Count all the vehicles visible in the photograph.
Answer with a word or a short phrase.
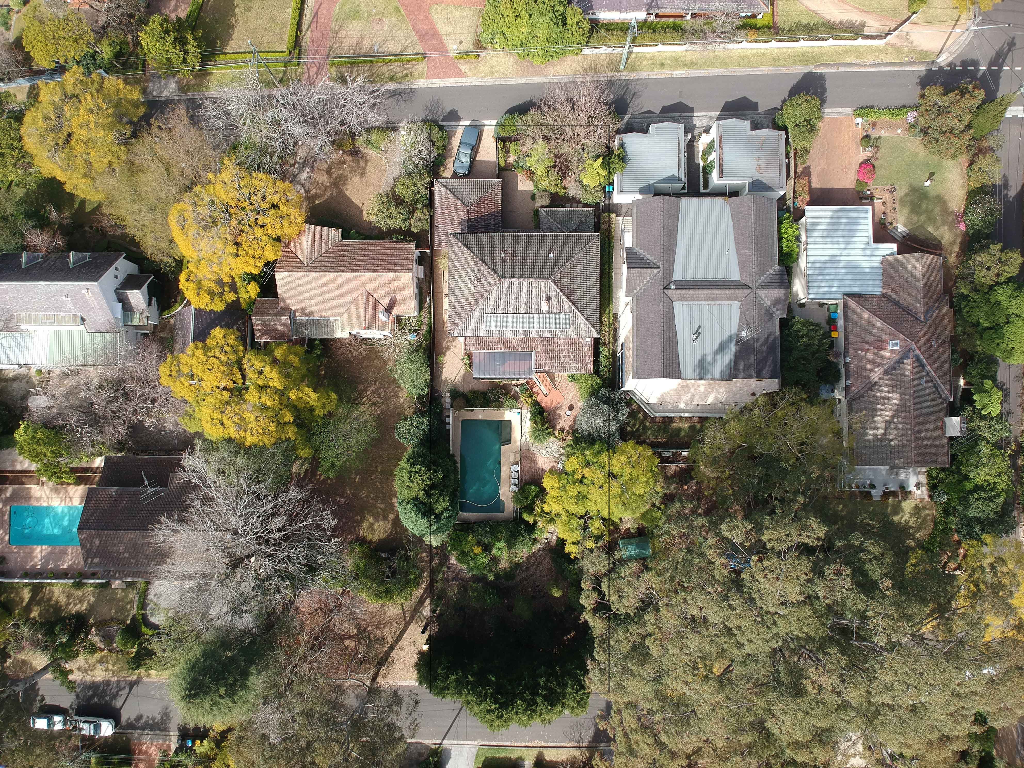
three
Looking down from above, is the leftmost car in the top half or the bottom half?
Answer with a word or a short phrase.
bottom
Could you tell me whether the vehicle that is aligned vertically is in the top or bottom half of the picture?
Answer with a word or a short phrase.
top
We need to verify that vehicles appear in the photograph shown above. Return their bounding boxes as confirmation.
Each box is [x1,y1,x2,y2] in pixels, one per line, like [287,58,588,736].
[25,714,63,735]
[455,123,481,175]
[64,716,115,742]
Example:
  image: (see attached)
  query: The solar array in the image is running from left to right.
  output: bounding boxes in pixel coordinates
[485,313,571,330]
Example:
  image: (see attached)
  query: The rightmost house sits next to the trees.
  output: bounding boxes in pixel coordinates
[803,205,964,468]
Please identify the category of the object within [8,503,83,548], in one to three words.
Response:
swimming pool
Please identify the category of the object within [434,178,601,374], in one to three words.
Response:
house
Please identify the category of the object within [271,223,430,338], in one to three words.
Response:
house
